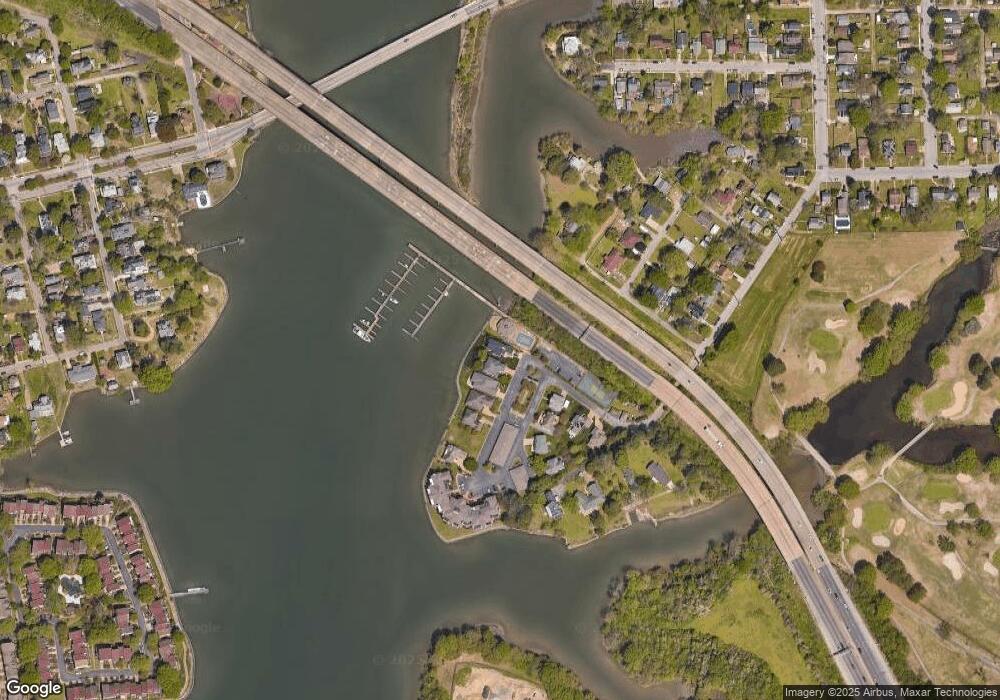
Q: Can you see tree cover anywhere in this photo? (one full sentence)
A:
Yes, tree cover can be seen from above here.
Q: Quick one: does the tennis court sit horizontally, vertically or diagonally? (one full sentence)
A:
What the image shows is the tennis court lying diagonally.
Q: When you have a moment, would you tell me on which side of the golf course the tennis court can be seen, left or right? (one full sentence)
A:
In the image, the tennis court sits on the left side of the golf course.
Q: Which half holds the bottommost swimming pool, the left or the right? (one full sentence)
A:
The bottommost swimming pool is on the left side of the image.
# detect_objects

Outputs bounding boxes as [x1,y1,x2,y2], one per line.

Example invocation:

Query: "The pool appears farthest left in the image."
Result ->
[59,574,82,604]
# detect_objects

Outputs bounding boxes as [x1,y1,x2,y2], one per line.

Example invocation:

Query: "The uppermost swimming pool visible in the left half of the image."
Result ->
[196,191,209,208]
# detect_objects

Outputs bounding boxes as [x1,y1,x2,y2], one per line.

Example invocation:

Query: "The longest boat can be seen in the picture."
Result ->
[353,324,369,340]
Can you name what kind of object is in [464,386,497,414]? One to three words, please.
house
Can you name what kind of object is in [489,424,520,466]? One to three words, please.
building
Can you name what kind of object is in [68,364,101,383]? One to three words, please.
house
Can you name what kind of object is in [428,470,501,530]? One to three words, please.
building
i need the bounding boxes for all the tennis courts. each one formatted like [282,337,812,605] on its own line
[578,374,618,409]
